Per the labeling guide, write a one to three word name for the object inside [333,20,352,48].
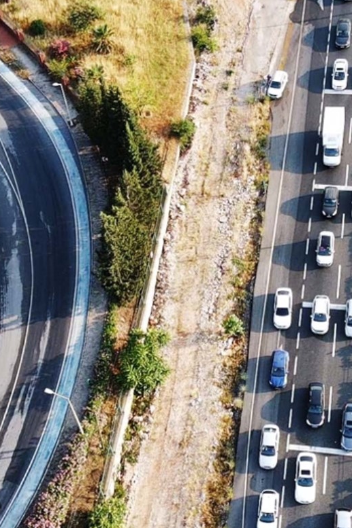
car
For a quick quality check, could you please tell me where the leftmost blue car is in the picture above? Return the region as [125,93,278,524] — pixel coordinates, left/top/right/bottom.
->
[267,347,292,393]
